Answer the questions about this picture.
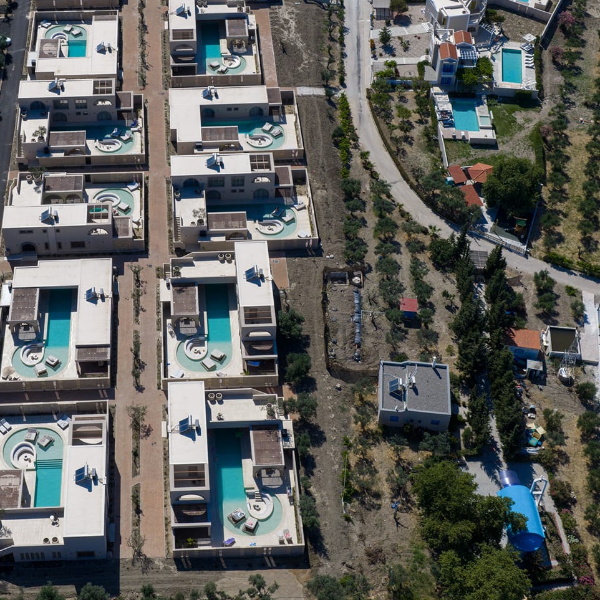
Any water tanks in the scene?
Yes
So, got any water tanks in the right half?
Yes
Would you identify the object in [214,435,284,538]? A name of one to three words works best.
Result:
swimming pool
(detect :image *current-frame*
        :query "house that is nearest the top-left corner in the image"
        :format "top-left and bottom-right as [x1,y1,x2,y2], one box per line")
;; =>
[28,12,118,88]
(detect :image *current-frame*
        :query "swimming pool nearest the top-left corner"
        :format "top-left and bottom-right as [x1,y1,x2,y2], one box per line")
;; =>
[42,22,88,57]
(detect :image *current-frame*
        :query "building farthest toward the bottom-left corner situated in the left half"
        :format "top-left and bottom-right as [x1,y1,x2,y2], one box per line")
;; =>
[0,411,111,566]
